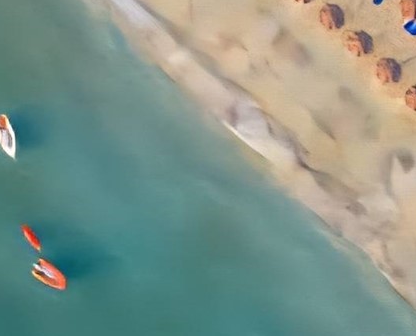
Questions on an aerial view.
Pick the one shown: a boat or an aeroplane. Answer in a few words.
boat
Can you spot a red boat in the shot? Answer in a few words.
Yes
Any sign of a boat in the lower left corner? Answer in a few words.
Yes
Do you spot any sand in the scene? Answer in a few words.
Yes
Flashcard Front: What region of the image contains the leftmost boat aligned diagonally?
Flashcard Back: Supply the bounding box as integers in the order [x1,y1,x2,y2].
[22,223,41,251]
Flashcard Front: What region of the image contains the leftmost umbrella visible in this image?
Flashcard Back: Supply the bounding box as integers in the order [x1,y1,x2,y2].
[320,5,342,27]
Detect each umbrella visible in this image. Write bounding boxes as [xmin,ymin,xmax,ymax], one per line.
[375,58,399,82]
[346,30,369,55]
[401,0,416,17]
[320,5,342,27]
[404,86,416,109]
